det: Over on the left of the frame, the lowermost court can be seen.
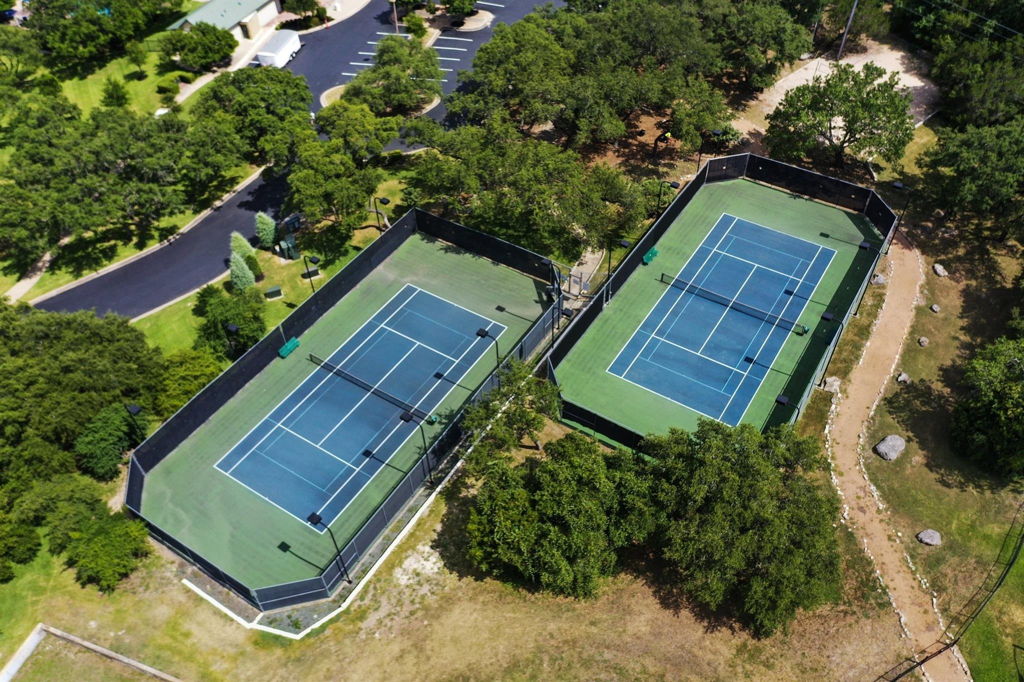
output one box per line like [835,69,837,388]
[132,232,589,622]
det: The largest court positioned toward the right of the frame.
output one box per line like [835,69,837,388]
[545,177,890,491]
